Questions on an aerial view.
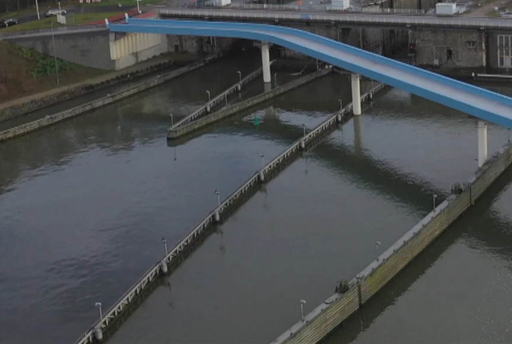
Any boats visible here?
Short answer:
No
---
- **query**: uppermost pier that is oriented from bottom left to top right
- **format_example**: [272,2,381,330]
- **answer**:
[166,56,281,126]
